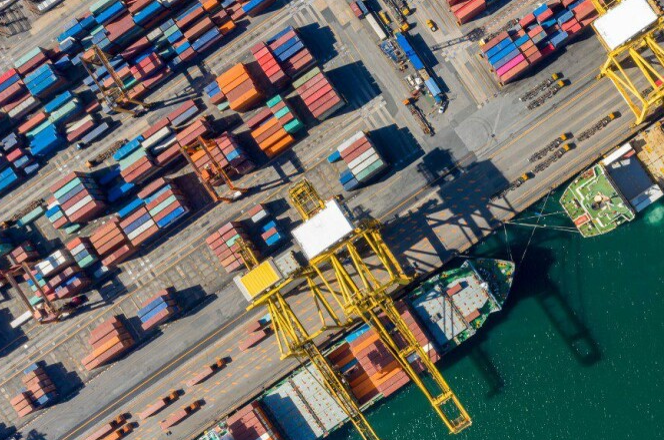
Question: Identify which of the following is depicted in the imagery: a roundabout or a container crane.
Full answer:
There is a container crane in the scene.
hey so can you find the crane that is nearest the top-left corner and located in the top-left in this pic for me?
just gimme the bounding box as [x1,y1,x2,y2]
[75,44,153,118]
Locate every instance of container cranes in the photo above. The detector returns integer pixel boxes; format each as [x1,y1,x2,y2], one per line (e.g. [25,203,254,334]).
[178,136,250,205]
[234,245,392,440]
[277,174,476,440]
[1,260,82,323]
[75,44,153,118]
[585,0,664,134]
